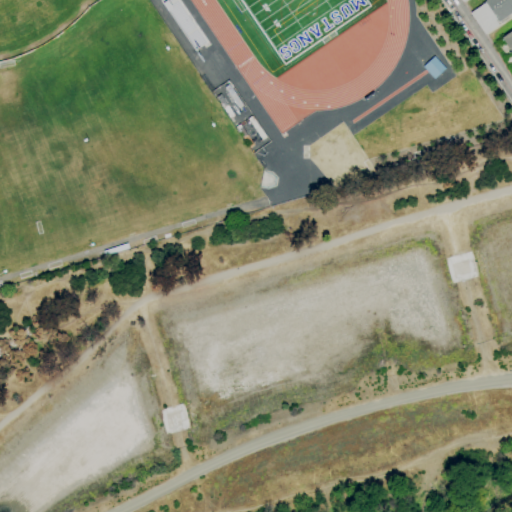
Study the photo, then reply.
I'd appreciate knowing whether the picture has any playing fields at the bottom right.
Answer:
No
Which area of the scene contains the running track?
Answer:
top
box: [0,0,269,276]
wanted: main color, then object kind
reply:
green sports field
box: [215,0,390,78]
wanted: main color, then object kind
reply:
green sports field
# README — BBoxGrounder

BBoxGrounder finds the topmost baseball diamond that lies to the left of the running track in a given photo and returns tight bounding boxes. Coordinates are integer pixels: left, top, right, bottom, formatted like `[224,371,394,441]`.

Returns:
[0,0,98,61]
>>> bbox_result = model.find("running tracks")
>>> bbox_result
[190,0,411,136]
